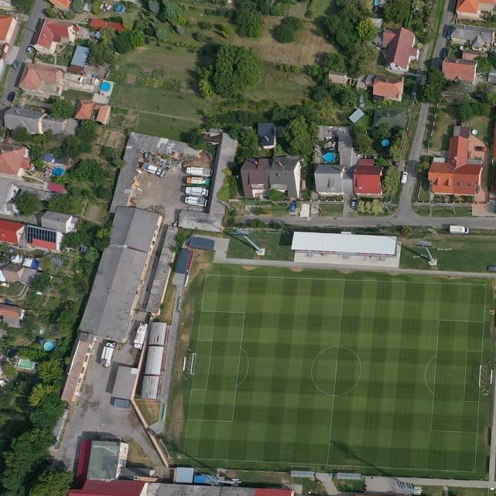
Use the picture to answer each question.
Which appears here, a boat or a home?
home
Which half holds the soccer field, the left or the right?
right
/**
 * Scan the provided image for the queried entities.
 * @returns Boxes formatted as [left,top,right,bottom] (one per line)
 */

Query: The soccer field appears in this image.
[173,264,496,479]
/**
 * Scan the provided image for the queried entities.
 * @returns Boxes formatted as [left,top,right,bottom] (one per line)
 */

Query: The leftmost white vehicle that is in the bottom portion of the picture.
[101,342,115,369]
